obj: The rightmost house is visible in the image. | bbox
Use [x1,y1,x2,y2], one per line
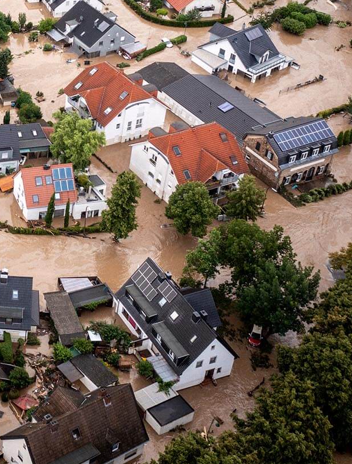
[243,116,338,188]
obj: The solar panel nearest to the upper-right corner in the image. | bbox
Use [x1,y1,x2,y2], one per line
[243,26,266,44]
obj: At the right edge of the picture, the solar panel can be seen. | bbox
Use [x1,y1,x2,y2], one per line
[271,118,336,160]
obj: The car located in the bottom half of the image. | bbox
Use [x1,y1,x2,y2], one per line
[249,324,262,345]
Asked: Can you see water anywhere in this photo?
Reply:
Yes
